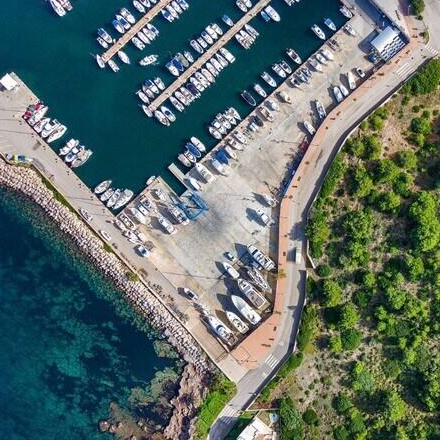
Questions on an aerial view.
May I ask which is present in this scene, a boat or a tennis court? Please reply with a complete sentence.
Of the two, only a boat appears.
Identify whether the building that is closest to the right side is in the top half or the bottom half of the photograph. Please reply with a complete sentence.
Seen from above, the building that is closest to the right side lies in the top half of the view.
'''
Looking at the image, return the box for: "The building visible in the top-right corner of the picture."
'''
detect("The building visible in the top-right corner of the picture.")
[370,26,407,64]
